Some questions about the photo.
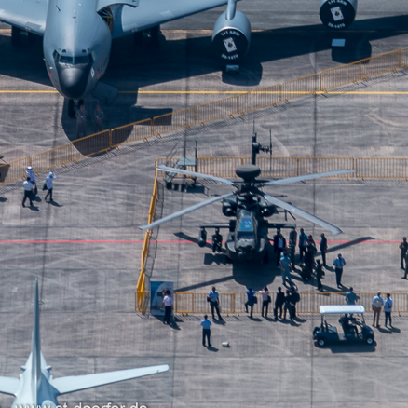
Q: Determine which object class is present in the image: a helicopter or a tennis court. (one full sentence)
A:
Visible in the photo is a helicopter.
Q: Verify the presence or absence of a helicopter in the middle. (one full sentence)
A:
Yes, looking in the middle, one can make out a helicopter.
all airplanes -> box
[0,0,253,121]
[0,275,171,408]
